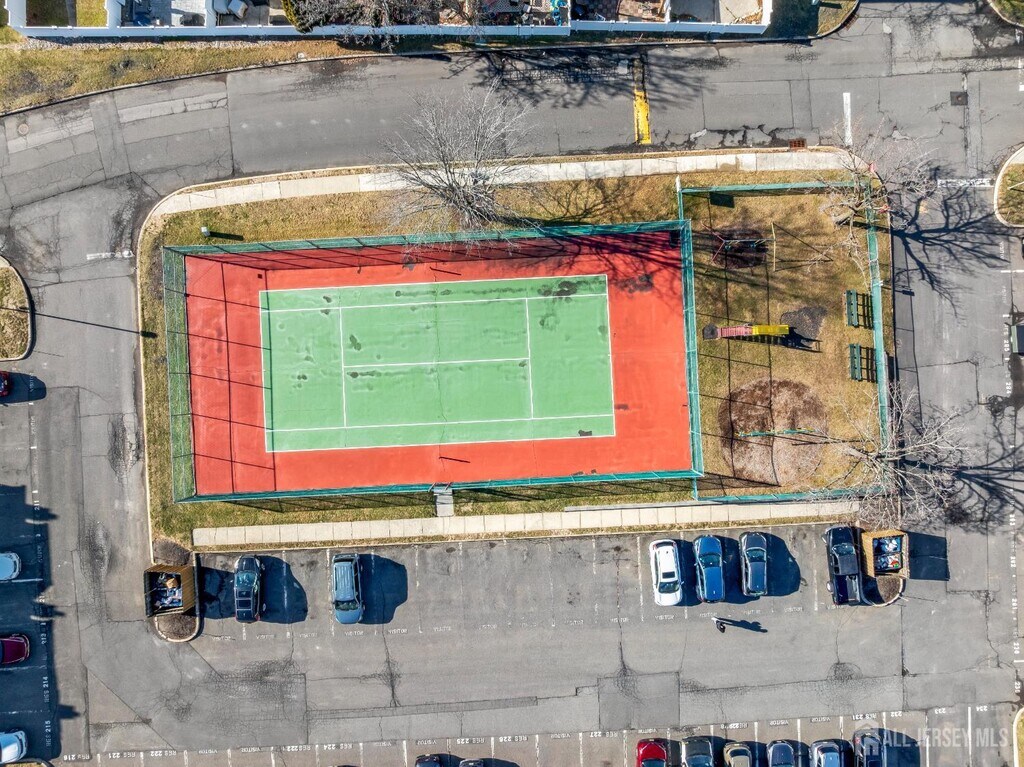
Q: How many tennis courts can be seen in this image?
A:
1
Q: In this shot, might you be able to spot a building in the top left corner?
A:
No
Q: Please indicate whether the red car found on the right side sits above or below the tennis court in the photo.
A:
below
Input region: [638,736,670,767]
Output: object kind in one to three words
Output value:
car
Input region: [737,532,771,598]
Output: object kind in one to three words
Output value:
car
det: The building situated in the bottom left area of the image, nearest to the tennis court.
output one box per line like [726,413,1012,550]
[145,566,194,617]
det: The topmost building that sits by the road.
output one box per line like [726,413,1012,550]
[864,531,913,577]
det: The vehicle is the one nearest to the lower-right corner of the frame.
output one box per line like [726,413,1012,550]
[850,729,889,767]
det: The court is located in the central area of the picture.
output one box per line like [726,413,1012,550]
[184,229,692,495]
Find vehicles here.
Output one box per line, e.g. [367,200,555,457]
[737,532,771,598]
[649,539,684,605]
[329,552,364,624]
[1010,326,1024,354]
[638,736,670,767]
[765,738,800,767]
[723,741,753,767]
[229,553,265,624]
[0,729,29,767]
[0,551,22,580]
[0,633,32,668]
[824,525,865,606]
[459,757,486,767]
[850,729,889,767]
[416,752,443,767]
[808,738,842,767]
[692,535,726,604]
[0,370,12,396]
[681,735,716,767]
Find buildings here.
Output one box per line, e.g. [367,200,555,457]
[145,566,194,617]
[864,531,913,577]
